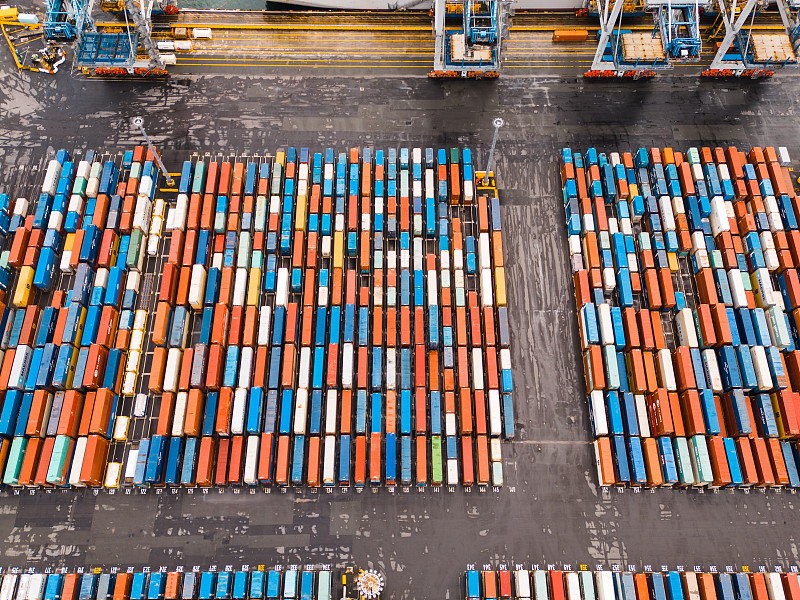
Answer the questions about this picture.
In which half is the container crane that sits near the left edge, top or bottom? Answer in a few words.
top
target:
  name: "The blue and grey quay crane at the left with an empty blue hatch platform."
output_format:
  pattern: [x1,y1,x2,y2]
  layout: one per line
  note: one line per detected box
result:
[39,0,180,79]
